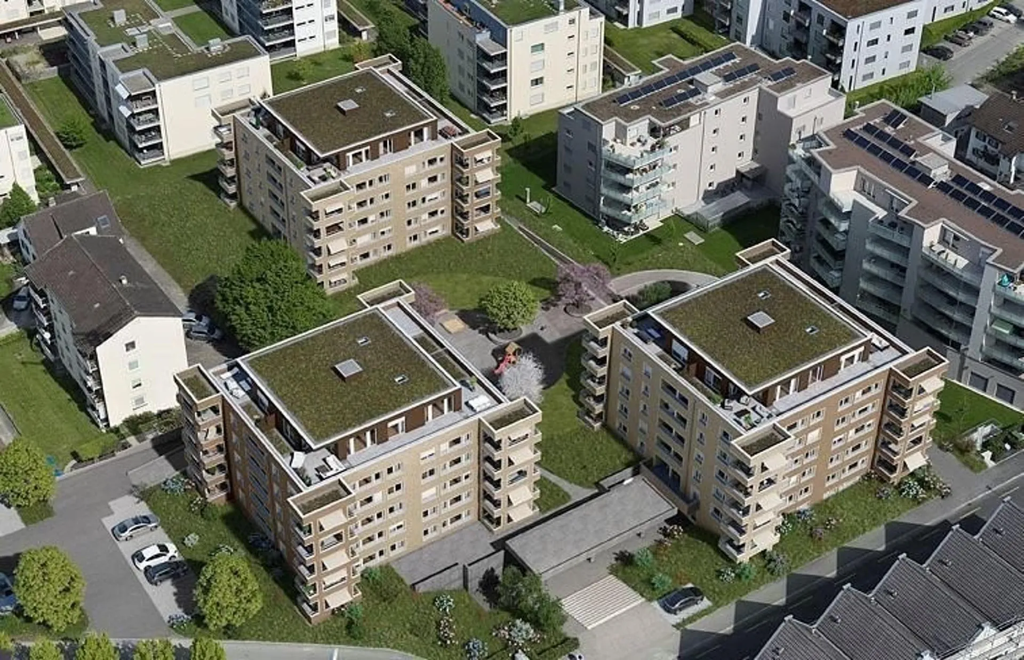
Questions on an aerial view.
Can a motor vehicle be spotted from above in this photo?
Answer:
Yes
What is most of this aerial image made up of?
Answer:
buildings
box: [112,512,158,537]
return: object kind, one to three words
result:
car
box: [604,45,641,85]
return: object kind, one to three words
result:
shed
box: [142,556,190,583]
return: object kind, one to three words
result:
car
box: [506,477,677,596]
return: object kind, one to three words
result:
building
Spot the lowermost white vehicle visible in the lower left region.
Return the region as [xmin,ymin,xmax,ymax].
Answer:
[131,540,178,564]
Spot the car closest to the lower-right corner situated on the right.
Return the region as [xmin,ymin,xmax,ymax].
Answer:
[659,583,707,609]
